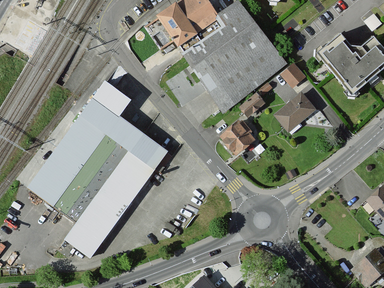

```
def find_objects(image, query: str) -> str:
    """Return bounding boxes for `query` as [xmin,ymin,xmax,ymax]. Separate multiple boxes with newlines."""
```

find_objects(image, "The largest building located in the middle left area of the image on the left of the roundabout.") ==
[27,81,168,258]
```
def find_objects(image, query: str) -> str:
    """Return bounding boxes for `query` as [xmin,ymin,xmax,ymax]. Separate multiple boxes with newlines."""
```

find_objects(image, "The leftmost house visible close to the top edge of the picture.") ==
[157,2,198,47]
